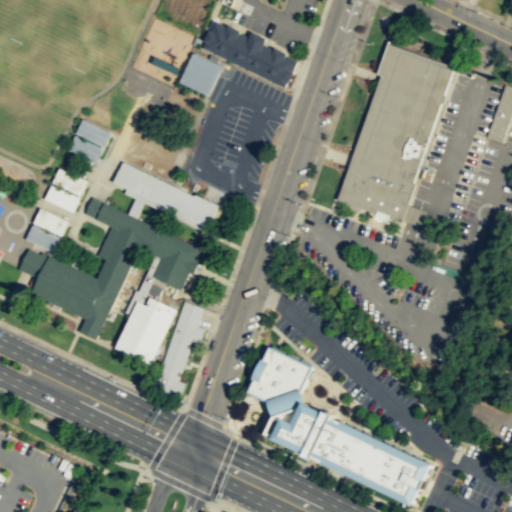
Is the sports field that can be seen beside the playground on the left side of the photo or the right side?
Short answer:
left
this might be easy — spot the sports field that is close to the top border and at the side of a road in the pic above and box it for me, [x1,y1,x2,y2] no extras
[0,0,154,165]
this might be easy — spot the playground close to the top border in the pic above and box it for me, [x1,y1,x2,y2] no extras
[133,19,194,88]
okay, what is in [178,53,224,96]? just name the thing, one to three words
building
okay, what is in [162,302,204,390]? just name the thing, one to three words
building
